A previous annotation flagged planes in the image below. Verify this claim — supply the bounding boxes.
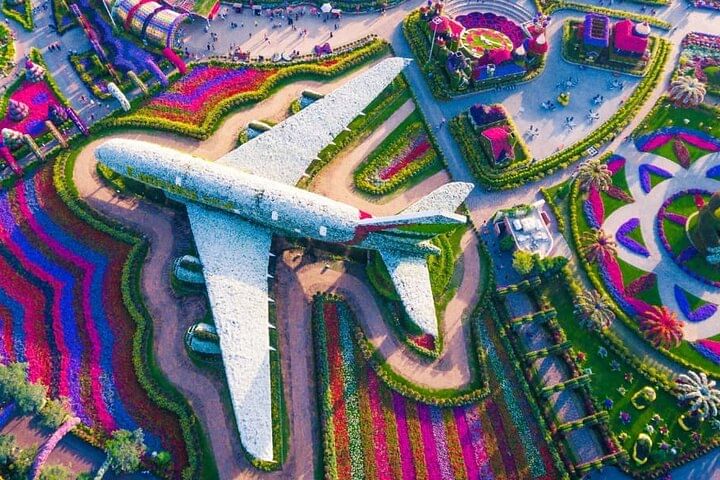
[91,57,476,462]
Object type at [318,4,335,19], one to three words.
umbrella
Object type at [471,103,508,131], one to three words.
shed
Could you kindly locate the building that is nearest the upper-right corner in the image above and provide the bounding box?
[608,22,655,64]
